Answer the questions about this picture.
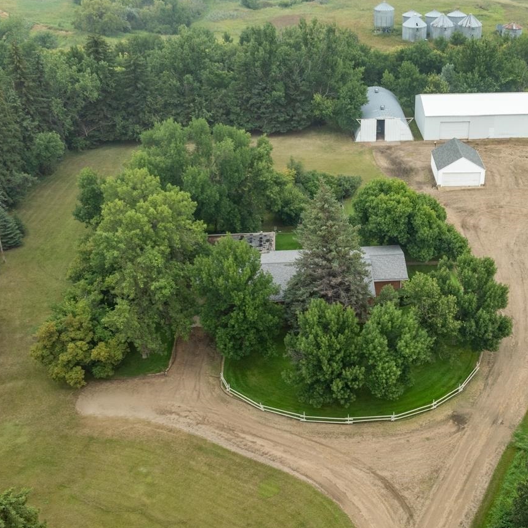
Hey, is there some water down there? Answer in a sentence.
No, there's no water in this view.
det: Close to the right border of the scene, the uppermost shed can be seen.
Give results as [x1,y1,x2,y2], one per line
[415,91,528,140]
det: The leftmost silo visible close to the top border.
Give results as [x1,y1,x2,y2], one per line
[373,0,394,31]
